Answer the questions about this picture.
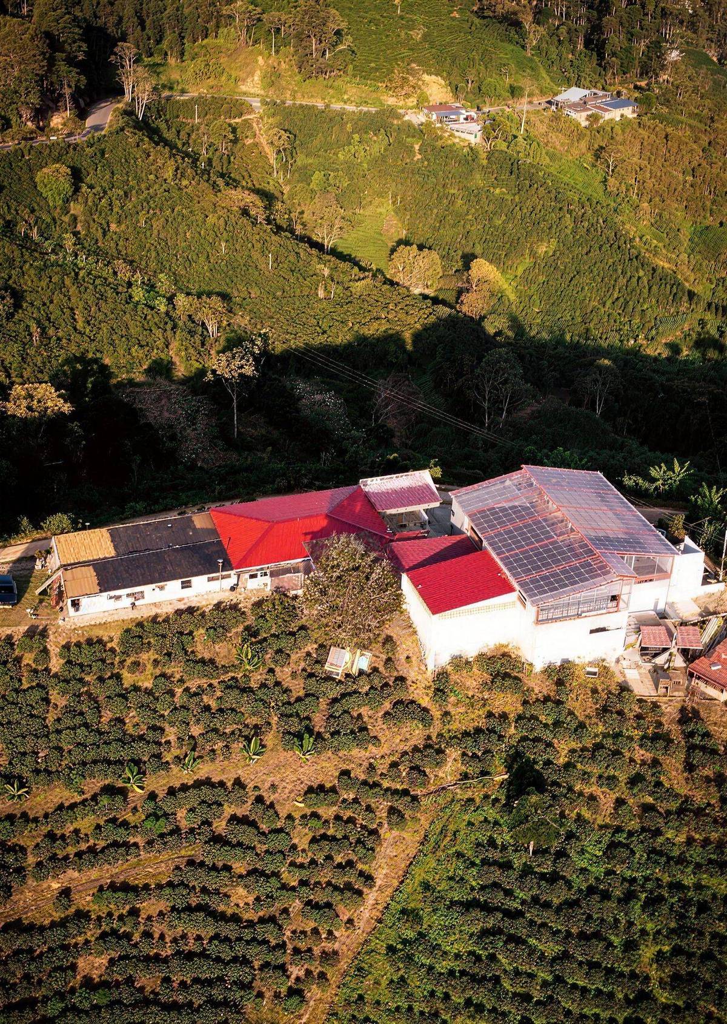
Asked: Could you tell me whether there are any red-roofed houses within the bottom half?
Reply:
Yes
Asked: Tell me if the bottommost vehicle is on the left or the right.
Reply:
left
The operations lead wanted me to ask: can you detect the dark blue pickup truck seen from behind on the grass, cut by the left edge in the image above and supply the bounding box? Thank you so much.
[0,566,20,605]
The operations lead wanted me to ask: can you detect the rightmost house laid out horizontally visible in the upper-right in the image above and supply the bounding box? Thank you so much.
[552,86,638,122]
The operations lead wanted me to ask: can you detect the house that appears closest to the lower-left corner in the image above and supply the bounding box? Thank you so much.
[50,511,231,617]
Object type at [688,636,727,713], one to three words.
house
